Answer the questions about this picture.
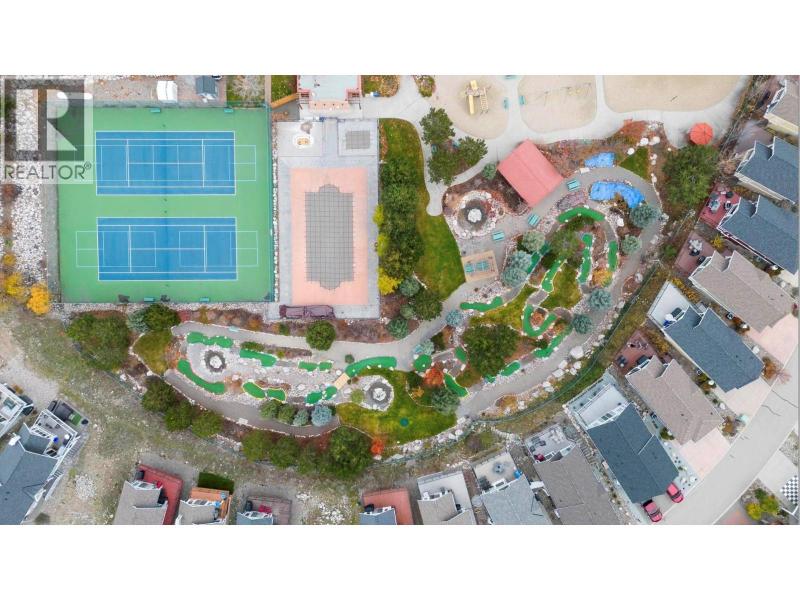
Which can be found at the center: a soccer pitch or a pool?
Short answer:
pool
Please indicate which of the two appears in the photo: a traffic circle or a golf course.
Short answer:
golf course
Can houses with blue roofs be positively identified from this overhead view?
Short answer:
Yes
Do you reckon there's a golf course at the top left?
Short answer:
No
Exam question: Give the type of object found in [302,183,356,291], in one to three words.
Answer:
swimming pool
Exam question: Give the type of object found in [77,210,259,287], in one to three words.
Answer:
tennis court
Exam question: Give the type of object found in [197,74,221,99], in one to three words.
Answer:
shed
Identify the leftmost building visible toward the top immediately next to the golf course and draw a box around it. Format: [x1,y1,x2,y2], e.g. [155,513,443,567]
[495,138,564,209]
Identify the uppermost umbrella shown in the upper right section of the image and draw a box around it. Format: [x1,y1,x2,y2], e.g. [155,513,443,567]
[691,123,713,145]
